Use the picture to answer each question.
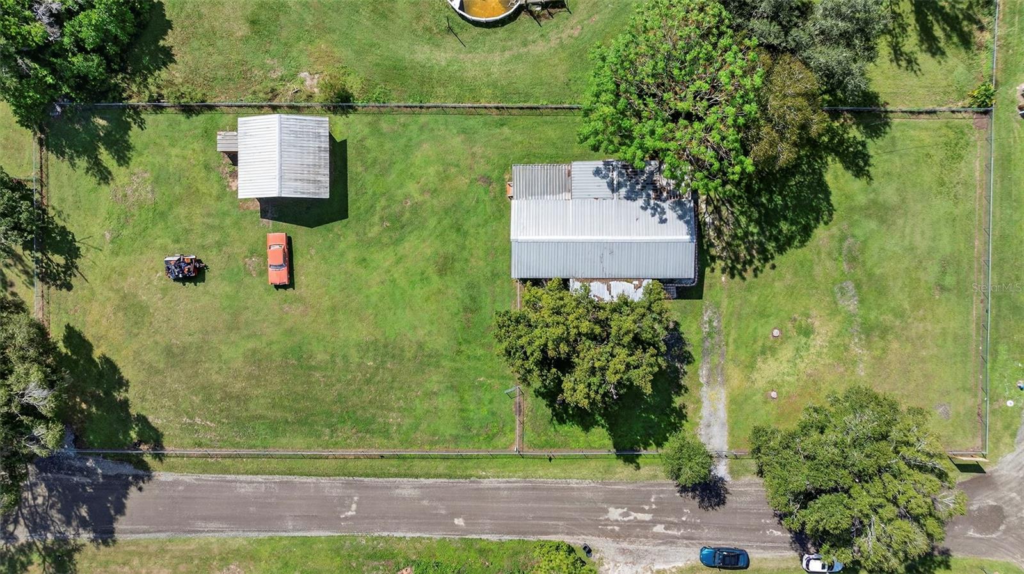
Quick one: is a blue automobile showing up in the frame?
Yes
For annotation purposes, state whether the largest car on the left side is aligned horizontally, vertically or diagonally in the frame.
vertically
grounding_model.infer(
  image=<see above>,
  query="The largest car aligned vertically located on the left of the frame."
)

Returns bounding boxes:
[265,232,289,285]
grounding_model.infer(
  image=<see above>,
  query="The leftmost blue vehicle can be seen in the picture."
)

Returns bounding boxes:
[699,545,750,571]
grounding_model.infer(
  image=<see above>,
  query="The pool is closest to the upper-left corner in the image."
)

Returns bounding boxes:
[448,0,523,27]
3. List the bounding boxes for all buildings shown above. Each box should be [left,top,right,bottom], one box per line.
[511,199,699,279]
[238,113,332,198]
